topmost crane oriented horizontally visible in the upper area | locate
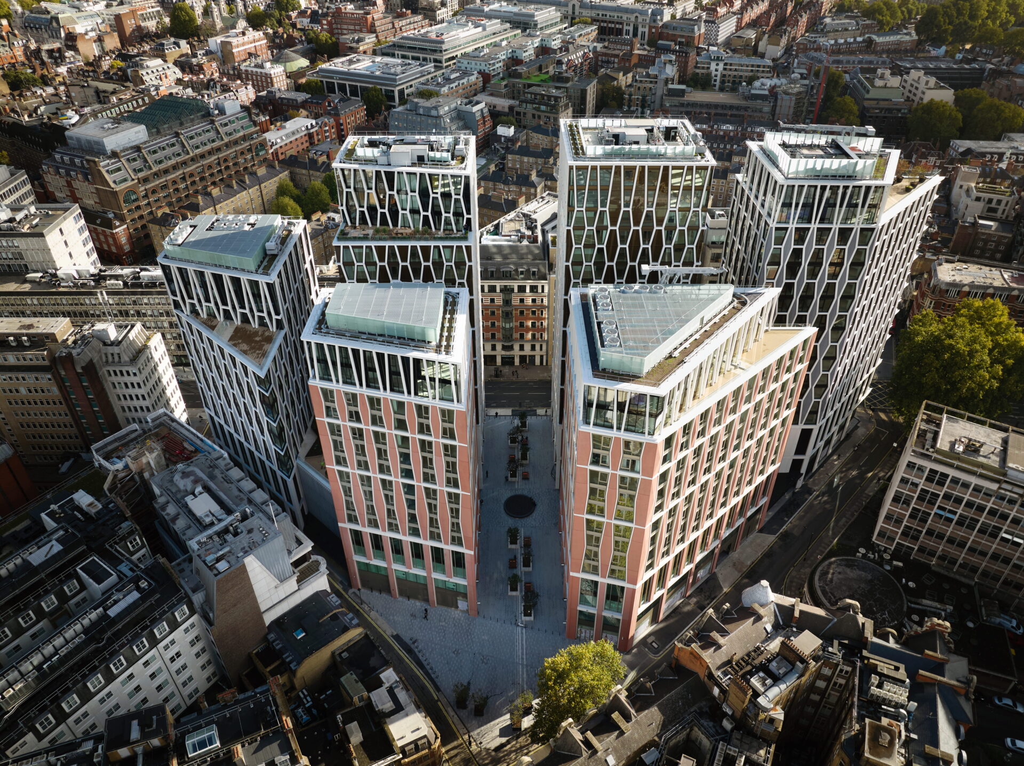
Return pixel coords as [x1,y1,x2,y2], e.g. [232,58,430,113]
[780,121,876,156]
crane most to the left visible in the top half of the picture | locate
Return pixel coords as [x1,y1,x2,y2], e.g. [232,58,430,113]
[638,262,725,276]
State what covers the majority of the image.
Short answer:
buildings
